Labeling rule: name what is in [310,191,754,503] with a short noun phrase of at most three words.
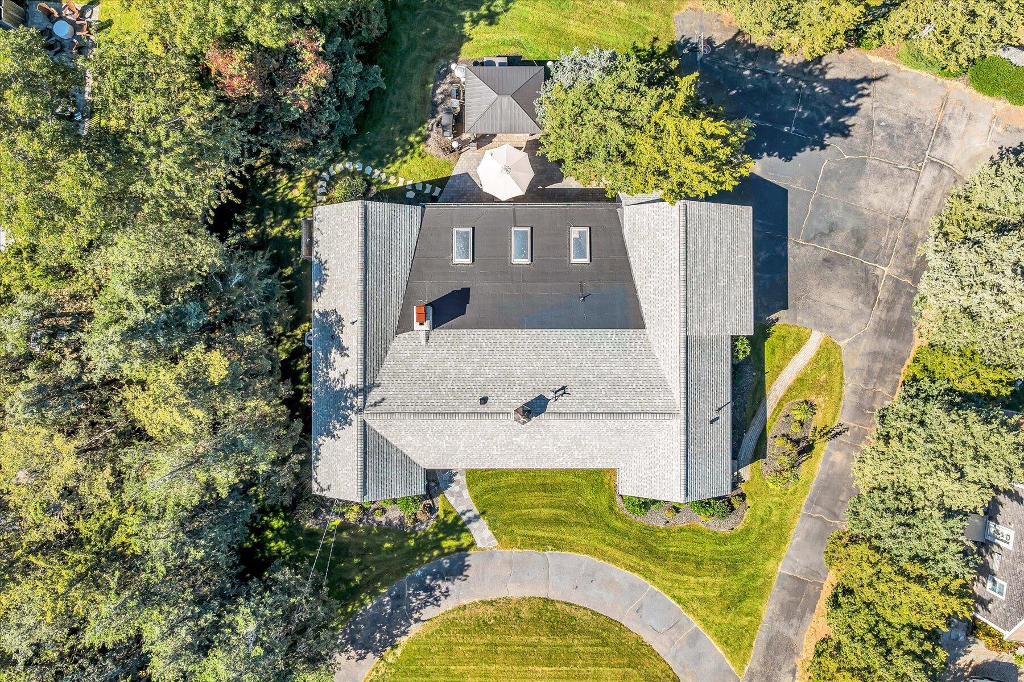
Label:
house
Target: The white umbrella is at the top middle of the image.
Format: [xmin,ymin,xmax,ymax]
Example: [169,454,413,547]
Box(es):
[476,144,534,201]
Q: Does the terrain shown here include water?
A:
No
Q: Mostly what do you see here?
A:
trees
